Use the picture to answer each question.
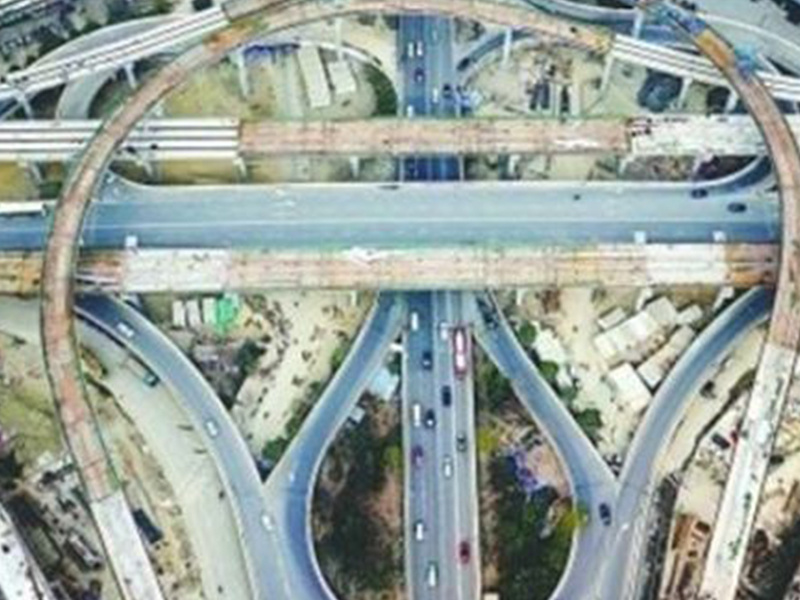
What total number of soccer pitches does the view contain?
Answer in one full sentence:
I count no soccer pitches.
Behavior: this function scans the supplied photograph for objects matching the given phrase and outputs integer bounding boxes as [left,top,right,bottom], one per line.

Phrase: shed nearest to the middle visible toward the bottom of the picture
[371,367,398,404]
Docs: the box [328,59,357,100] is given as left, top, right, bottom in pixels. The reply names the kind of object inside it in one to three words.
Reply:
shed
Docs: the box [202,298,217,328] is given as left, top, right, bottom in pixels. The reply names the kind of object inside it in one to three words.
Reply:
building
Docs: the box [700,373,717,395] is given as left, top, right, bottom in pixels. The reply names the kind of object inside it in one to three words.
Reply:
work vehicle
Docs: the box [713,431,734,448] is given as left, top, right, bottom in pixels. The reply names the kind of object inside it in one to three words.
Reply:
vehicle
